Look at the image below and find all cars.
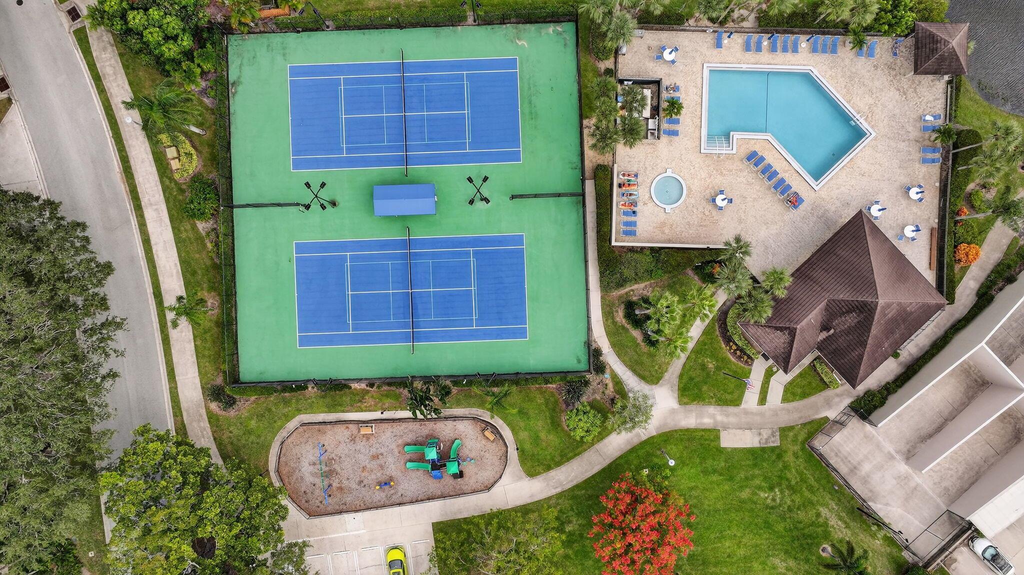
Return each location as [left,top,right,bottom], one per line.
[967,536,1014,575]
[384,546,407,575]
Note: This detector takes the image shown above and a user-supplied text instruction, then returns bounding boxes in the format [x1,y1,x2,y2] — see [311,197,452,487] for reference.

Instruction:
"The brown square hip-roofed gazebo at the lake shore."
[904,21,970,78]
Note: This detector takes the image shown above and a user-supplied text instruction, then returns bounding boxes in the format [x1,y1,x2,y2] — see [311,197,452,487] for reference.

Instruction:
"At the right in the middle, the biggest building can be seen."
[738,209,948,389]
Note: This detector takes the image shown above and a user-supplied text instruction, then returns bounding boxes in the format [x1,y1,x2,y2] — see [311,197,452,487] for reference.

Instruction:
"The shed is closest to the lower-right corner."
[949,468,1024,538]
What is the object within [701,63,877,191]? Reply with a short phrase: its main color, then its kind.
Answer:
blue swimming pool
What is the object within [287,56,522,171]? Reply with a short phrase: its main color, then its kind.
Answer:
blue tennis court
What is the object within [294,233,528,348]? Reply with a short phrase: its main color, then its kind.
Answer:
blue tennis court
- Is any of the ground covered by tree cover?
Yes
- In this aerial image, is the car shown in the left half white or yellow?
yellow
